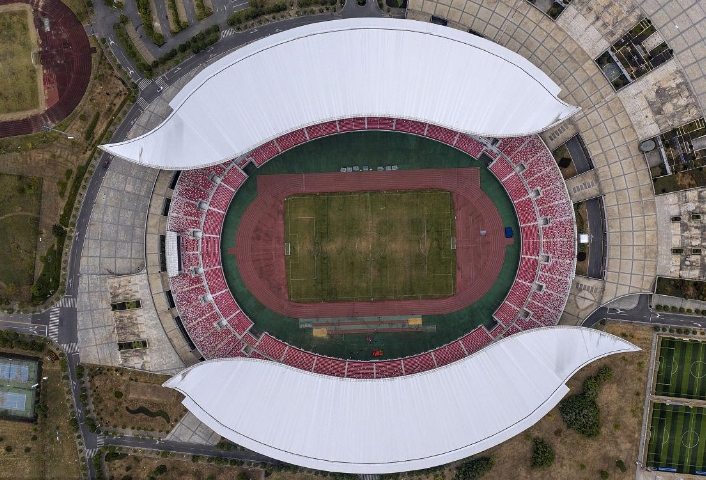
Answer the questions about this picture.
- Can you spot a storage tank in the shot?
No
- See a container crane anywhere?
No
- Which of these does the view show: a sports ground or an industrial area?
sports ground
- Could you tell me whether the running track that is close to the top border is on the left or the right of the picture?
left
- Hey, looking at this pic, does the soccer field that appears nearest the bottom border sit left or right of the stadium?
right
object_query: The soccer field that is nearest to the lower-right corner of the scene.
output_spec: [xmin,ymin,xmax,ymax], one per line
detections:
[643,402,706,472]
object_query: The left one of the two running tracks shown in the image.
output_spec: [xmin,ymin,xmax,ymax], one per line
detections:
[0,0,90,138]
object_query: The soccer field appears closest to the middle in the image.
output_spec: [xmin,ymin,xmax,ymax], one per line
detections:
[284,191,456,301]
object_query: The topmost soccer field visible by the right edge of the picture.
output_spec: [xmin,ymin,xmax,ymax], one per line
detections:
[654,334,706,401]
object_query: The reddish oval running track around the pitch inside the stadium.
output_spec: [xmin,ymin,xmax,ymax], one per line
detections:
[229,166,514,321]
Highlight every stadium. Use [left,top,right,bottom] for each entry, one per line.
[98,17,641,474]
